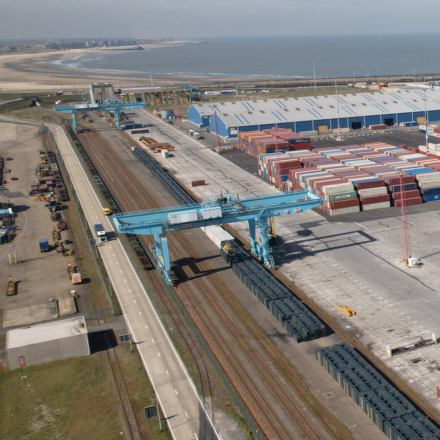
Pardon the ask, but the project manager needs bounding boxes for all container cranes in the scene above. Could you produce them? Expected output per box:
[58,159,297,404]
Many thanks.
[53,97,144,132]
[111,183,327,286]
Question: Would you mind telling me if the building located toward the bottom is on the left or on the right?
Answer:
left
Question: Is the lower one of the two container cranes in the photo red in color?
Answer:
No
